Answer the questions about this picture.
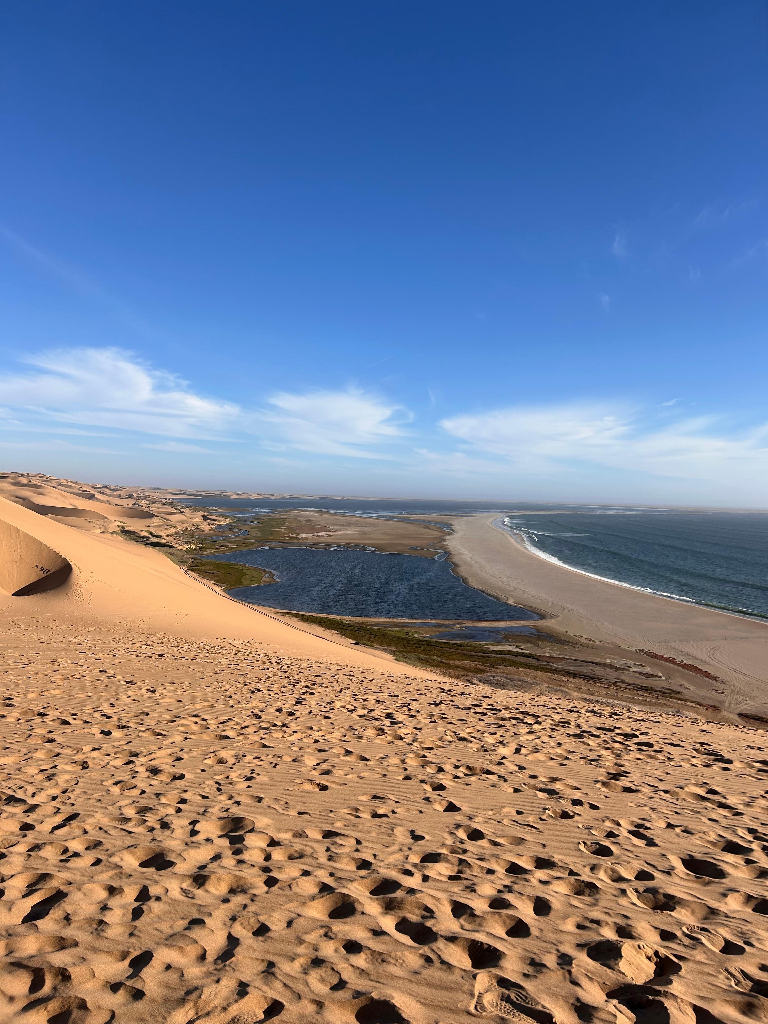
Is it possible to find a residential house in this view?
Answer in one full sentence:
No, I can see no residential house in this picture.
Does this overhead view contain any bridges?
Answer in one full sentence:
No, the photo shows no bridge.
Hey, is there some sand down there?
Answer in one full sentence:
Yes, sand shows up in the scene.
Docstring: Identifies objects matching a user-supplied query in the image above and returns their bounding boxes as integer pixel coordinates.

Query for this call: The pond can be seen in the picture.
[209,543,541,621]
